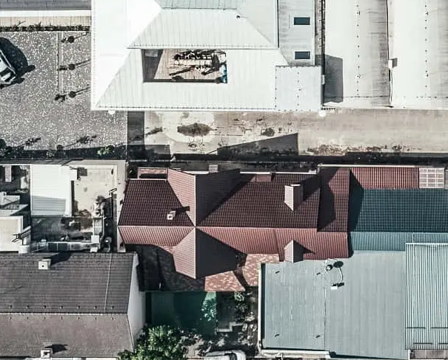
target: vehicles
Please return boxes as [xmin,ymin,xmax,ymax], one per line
[202,351,246,360]
[0,43,17,86]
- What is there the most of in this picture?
buildings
